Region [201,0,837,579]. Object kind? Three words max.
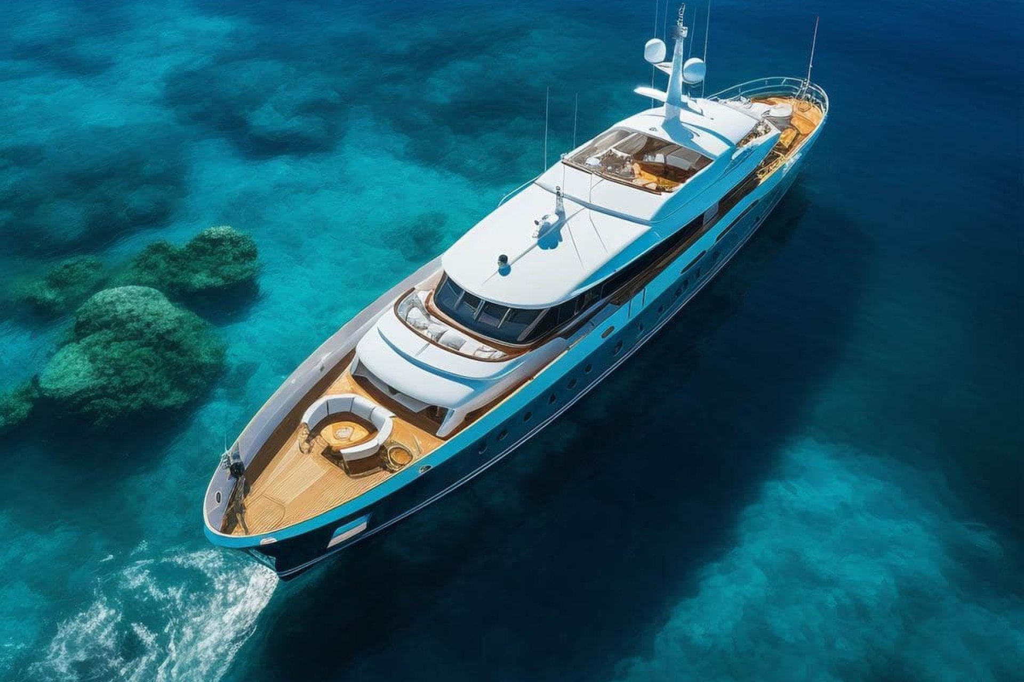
boat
